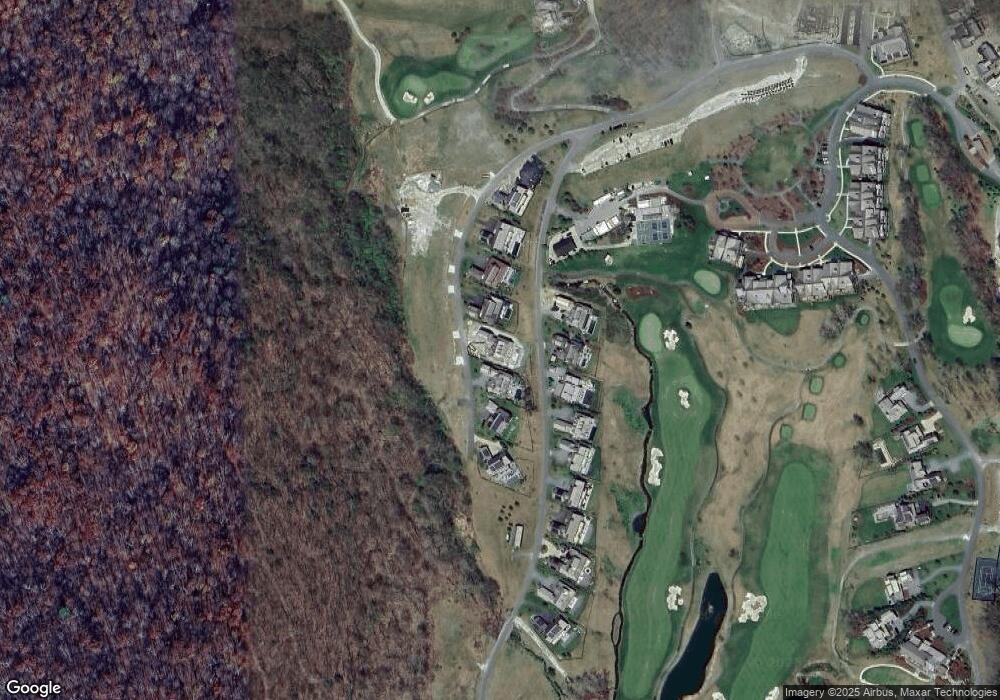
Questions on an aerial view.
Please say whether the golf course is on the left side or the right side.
right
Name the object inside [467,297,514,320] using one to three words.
house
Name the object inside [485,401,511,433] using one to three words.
house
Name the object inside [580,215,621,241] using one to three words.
building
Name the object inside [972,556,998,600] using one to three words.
tennis court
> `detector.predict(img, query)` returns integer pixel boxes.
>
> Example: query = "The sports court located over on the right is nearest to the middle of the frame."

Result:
[634,219,674,244]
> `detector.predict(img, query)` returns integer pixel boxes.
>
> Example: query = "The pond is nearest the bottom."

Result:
[659,571,728,700]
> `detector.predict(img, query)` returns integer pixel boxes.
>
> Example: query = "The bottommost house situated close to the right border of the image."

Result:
[900,635,951,680]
